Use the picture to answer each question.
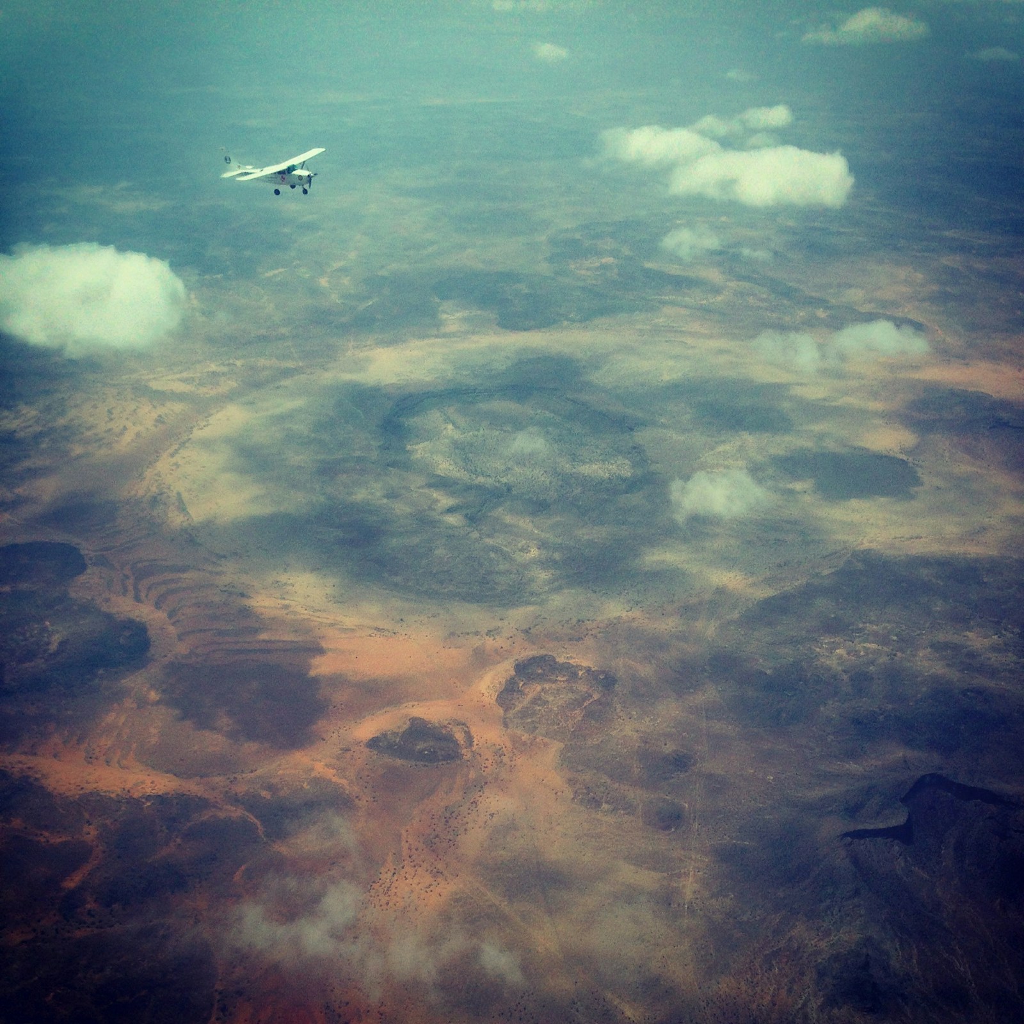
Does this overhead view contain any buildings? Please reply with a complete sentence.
No, the picture doesn't show any building.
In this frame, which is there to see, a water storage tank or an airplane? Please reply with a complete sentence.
Looking from above, you can make out an airplane.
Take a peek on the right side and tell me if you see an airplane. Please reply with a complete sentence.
No, no airplane can be made out on the right side.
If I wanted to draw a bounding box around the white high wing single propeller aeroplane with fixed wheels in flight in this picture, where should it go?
[218,149,328,196]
